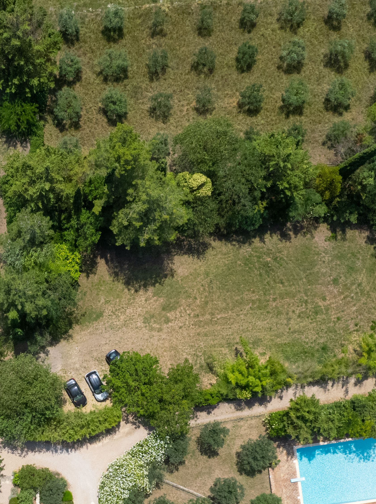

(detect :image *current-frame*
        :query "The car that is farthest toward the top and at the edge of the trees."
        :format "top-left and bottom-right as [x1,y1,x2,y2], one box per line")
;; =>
[103,342,127,369]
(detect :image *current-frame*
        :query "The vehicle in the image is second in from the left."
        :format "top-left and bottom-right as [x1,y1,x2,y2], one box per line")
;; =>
[85,368,109,402]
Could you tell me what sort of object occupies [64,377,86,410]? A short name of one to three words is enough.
car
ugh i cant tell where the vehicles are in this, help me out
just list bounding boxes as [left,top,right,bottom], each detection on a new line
[64,377,86,410]
[103,342,127,369]
[85,368,109,402]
